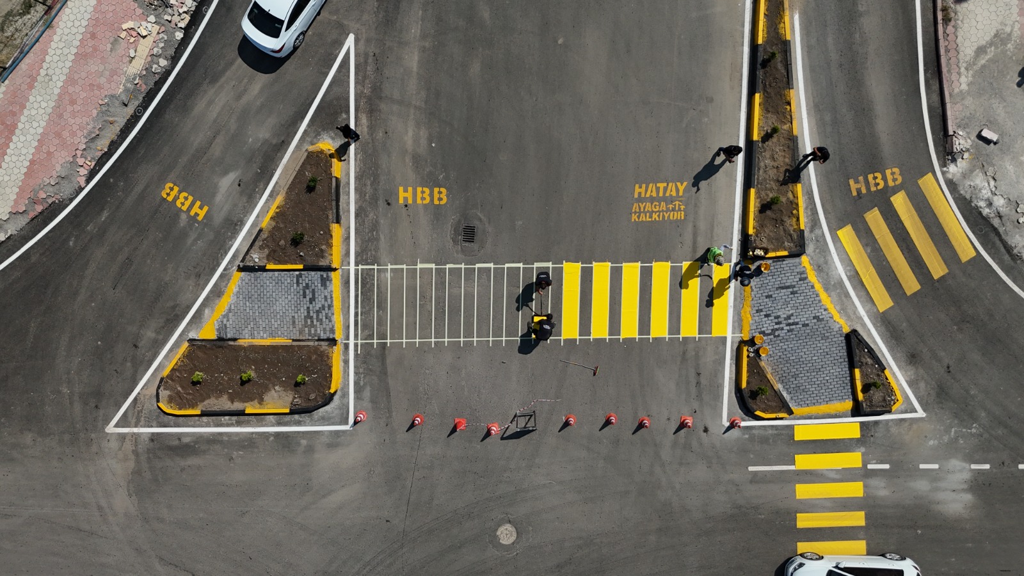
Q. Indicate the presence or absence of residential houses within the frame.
No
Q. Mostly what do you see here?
paved ground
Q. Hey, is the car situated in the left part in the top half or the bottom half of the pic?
top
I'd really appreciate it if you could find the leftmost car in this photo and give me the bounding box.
[240,0,329,58]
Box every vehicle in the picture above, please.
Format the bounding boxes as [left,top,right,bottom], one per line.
[783,552,922,576]
[240,0,329,58]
